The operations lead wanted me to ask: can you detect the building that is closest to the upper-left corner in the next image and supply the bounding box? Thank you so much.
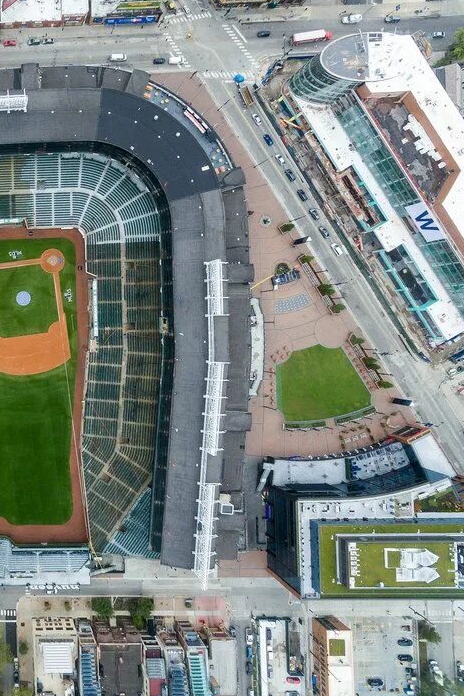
[0,0,61,31]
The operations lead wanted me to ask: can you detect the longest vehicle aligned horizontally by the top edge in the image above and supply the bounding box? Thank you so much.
[289,29,333,45]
